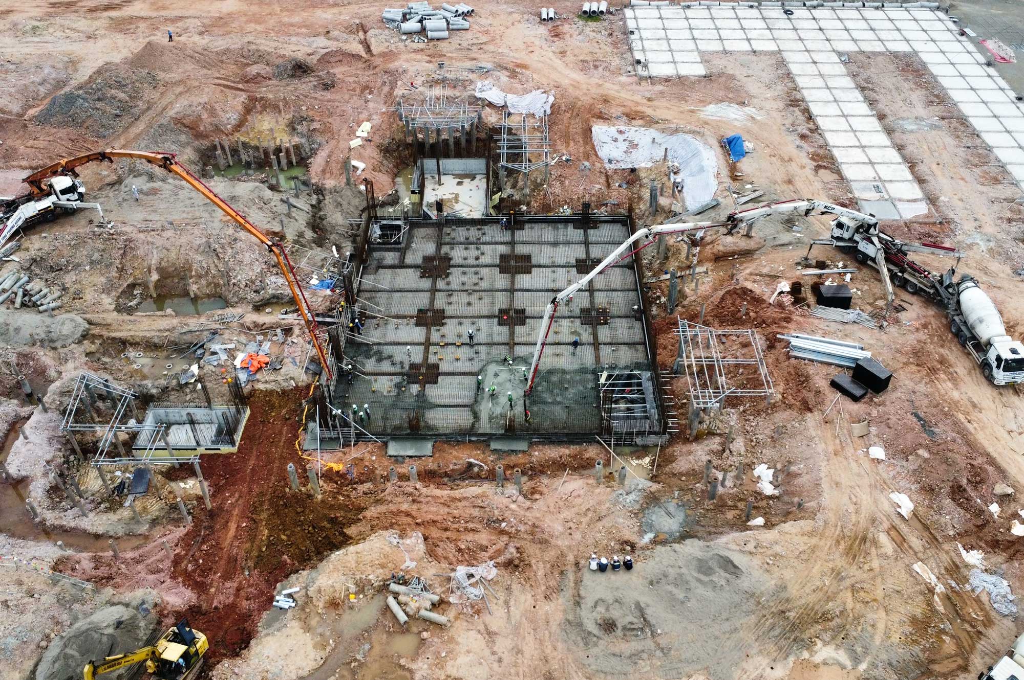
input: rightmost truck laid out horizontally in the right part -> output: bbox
[524,197,966,425]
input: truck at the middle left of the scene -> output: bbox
[0,148,336,399]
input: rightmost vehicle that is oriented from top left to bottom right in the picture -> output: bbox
[948,277,1024,380]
